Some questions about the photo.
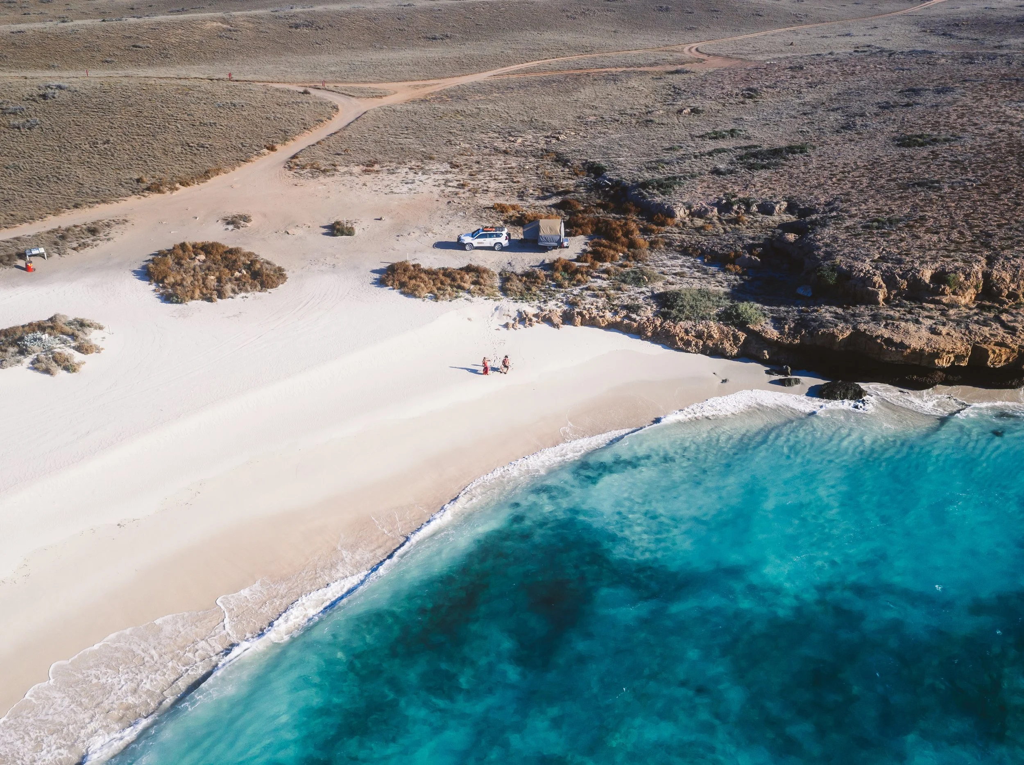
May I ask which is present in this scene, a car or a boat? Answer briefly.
car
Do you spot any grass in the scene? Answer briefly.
Yes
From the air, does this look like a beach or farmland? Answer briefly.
beach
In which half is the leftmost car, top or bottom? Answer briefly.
top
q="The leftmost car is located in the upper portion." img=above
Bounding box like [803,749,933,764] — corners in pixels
[455,223,512,251]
